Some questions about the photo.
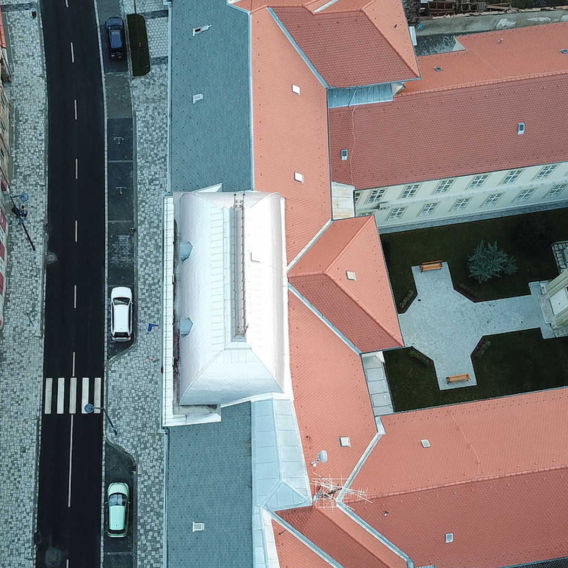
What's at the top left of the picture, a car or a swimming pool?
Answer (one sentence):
The feature located at the top left of the picture is a car.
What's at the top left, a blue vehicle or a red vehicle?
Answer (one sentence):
What appears at the top left is a blue vehicle.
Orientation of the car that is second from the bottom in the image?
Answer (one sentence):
From this overhead view, the car that is second from the bottom appears to run up and down.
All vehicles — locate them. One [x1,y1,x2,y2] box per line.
[105,484,132,538]
[108,291,134,343]
[103,18,127,60]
